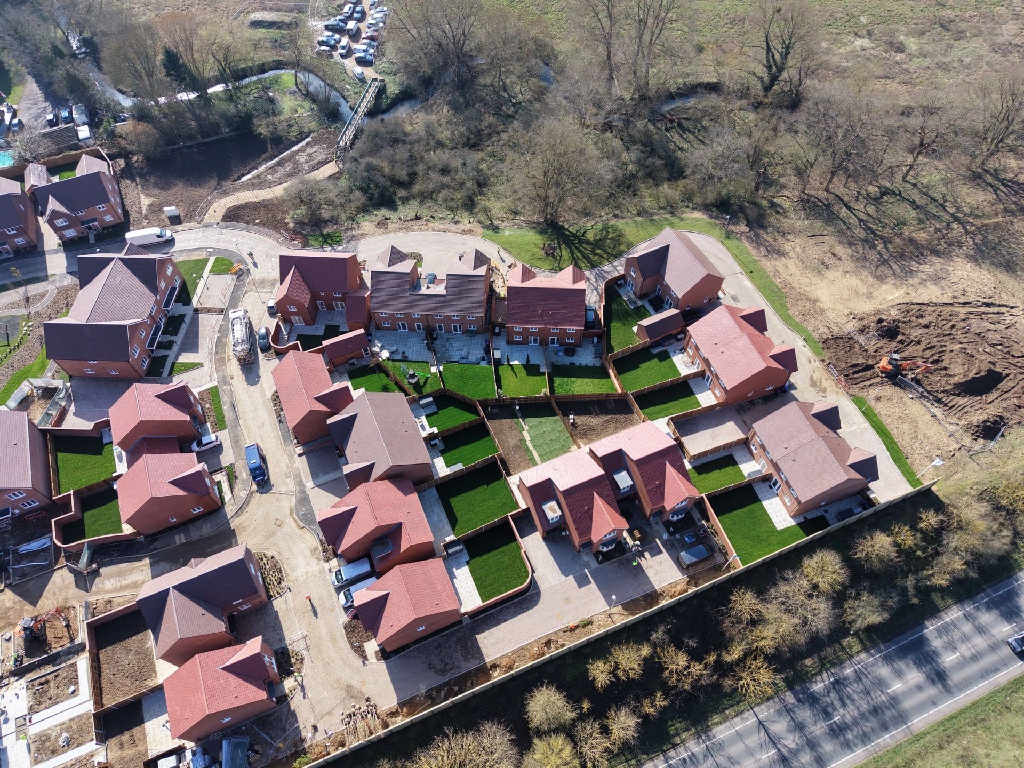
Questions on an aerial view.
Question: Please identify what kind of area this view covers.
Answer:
residential area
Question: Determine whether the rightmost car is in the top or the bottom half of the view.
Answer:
bottom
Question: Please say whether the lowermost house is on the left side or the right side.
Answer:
left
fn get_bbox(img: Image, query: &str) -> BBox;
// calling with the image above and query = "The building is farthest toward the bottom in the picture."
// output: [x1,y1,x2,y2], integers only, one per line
[163,635,281,742]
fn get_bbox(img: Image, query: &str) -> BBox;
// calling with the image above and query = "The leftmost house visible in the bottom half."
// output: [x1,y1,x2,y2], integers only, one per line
[0,411,51,519]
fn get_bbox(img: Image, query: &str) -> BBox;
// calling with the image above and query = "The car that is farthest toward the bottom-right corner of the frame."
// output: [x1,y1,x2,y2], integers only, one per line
[1003,629,1024,654]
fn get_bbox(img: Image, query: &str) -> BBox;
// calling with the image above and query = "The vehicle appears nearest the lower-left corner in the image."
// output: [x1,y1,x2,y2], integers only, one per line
[6,615,58,651]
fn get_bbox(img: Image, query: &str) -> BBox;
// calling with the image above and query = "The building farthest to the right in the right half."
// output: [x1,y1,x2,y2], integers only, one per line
[747,400,878,516]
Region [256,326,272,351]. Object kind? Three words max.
car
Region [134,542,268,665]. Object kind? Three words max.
house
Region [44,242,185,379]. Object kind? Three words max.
building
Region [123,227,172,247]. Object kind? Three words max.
vehicle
